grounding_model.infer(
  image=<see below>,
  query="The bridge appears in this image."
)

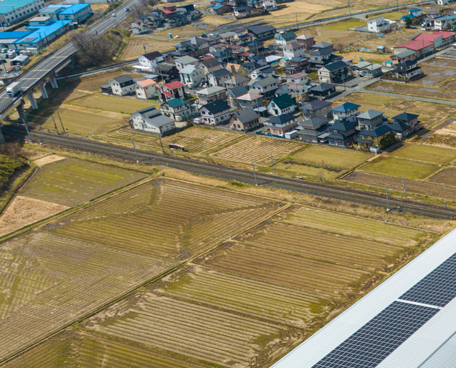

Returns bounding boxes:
[0,0,145,119]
